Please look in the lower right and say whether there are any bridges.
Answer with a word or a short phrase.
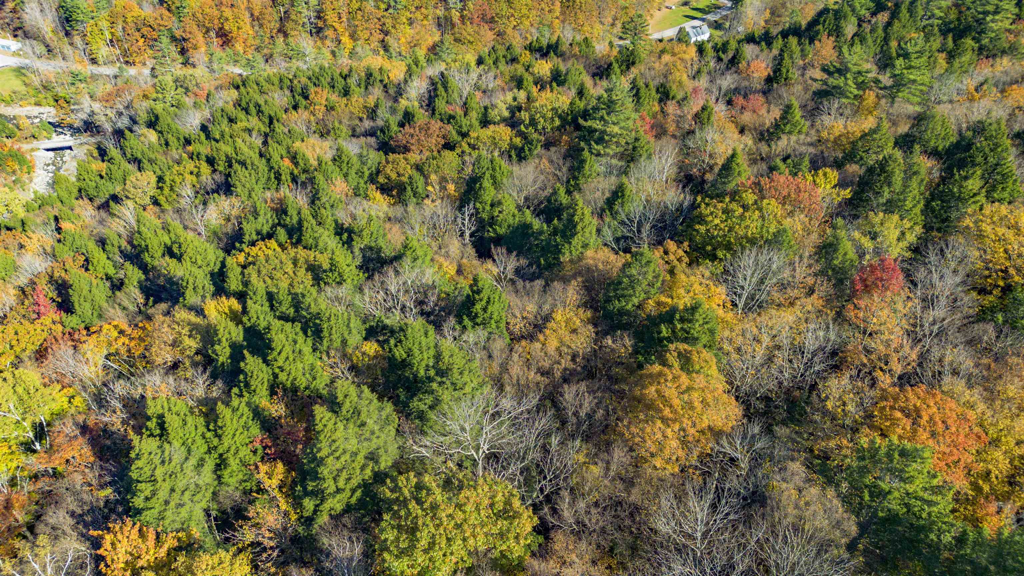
No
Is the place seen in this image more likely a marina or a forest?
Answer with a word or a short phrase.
forest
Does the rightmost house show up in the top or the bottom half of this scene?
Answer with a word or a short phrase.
top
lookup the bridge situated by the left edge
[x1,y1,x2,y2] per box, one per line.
[16,130,100,156]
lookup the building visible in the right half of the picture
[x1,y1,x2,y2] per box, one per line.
[681,21,711,43]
